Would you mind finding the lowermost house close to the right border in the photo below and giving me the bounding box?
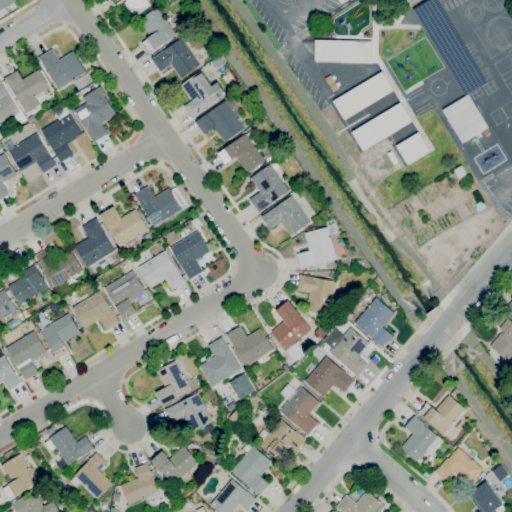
[472,482,508,512]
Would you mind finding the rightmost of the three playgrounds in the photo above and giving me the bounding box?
[474,144,508,174]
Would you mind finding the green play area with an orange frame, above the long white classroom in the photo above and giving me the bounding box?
[336,4,370,34]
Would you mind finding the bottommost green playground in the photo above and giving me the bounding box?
[388,38,444,90]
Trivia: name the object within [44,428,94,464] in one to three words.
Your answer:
house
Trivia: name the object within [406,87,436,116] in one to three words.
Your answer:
sports court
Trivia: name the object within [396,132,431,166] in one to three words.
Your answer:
building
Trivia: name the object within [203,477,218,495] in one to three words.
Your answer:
swimming pool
